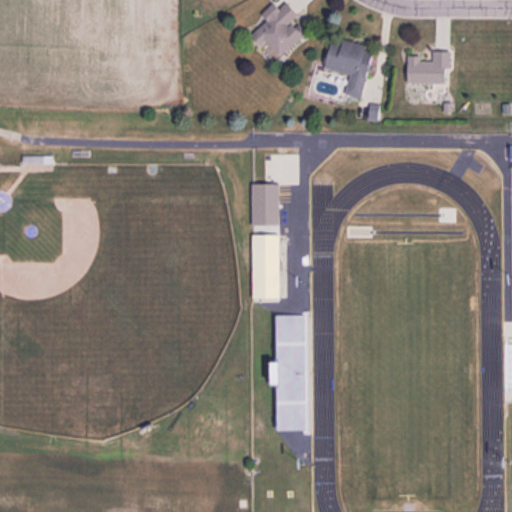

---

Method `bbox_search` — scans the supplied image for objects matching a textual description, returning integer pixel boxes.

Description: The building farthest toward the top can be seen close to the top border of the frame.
[253,2,301,58]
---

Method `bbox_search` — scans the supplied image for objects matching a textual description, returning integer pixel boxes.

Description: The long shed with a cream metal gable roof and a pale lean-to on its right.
[252,234,288,300]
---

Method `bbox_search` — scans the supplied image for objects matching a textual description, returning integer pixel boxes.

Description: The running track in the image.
[314,162,502,512]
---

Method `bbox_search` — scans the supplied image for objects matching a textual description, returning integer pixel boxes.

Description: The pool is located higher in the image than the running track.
[316,80,338,96]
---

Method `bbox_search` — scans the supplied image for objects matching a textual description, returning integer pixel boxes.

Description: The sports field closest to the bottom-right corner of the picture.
[334,183,481,512]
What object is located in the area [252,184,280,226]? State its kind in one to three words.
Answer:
shed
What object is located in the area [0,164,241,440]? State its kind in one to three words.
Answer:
baseball field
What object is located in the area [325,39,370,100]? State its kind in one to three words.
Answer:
house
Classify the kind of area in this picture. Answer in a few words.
sports ground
